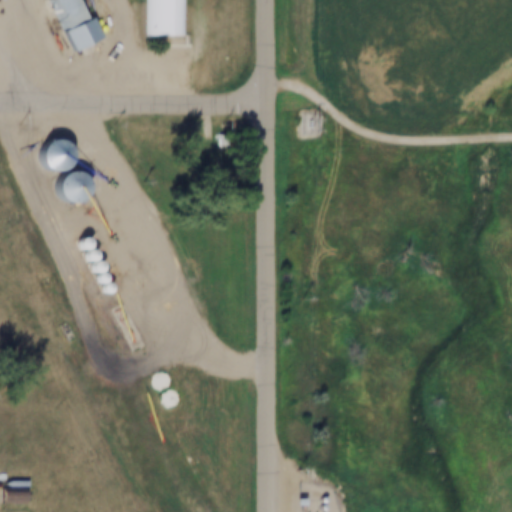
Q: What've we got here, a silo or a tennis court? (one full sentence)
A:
The image shows a silo.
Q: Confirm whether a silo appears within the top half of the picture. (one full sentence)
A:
Yes, a silo is visible within the top half of the picture.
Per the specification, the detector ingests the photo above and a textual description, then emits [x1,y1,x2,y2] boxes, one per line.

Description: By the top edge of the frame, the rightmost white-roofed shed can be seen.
[145,0,188,38]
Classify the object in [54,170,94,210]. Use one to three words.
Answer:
silo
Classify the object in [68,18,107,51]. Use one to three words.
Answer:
shed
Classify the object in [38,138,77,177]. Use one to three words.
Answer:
silo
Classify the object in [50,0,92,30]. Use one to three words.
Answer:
barn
